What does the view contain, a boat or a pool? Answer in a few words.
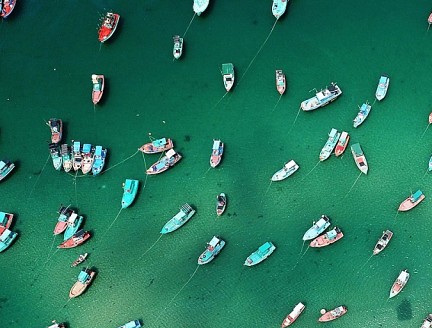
boat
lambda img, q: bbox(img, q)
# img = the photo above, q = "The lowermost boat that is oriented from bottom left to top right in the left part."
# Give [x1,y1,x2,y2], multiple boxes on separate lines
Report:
[69,266,100,298]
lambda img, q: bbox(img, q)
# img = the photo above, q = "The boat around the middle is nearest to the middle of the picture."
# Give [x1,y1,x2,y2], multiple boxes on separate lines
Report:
[210,135,226,168]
